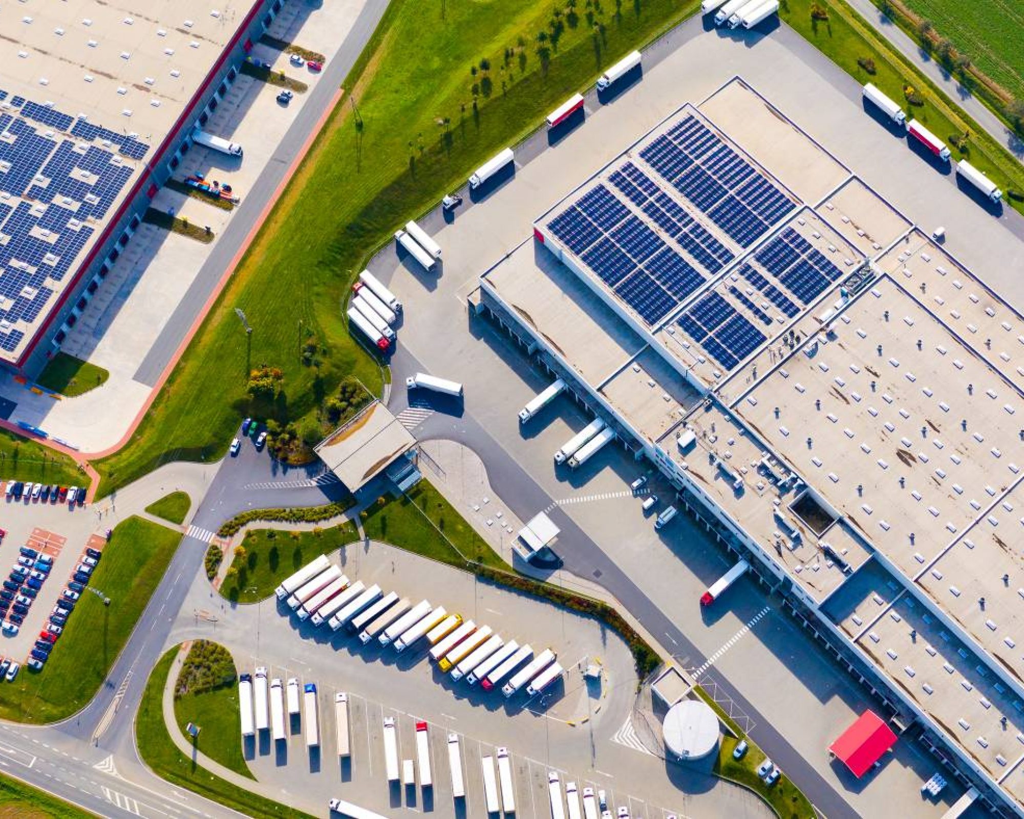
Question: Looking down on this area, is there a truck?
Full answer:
Yes, there is a truck in the image.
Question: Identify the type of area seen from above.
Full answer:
It's an industrial area.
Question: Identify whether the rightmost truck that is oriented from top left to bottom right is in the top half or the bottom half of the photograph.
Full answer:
You can find the rightmost truck that is oriented from top left to bottom right in the top half.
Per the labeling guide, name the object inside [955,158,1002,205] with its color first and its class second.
white truck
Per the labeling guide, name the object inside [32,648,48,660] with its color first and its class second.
blue vehicle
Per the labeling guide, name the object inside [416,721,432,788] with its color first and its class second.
white vehicle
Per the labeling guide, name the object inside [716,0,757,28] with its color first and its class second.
white truck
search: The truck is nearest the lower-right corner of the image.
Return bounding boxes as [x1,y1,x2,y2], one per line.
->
[935,787,978,819]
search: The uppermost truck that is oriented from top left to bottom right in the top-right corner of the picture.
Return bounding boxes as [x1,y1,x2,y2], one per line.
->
[861,83,906,128]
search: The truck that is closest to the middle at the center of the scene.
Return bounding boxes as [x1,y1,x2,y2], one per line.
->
[518,380,566,426]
